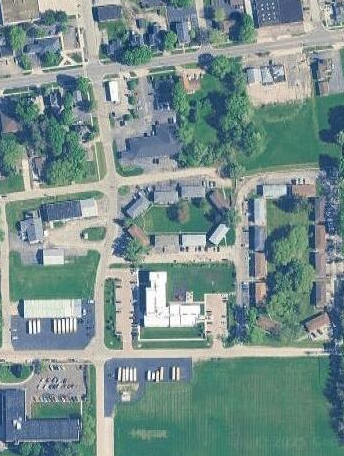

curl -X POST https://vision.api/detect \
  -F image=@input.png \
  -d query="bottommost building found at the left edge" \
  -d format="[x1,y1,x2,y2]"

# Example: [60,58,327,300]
[6,390,79,442]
